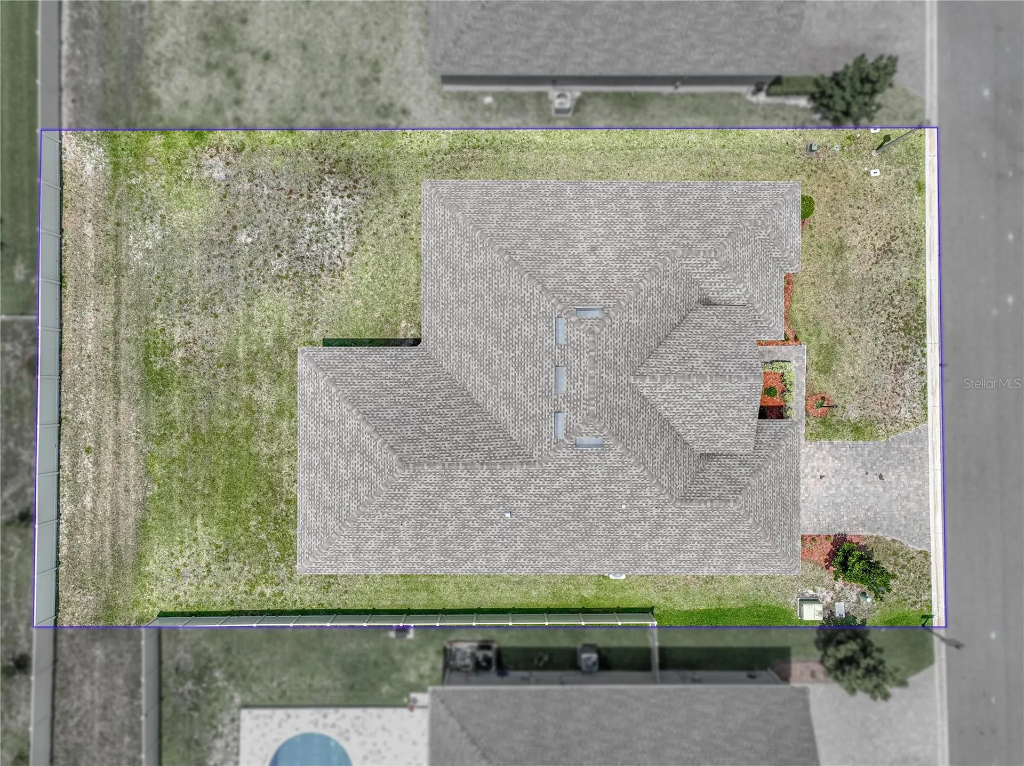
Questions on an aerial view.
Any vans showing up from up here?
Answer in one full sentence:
No, the frame has no van in it.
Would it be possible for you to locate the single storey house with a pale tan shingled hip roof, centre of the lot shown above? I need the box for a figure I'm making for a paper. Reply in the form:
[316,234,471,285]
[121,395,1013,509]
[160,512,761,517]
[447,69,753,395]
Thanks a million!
[296,180,802,575]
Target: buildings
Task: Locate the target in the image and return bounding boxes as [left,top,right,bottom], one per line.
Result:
[428,0,805,83]
[296,180,802,575]
[427,671,820,766]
